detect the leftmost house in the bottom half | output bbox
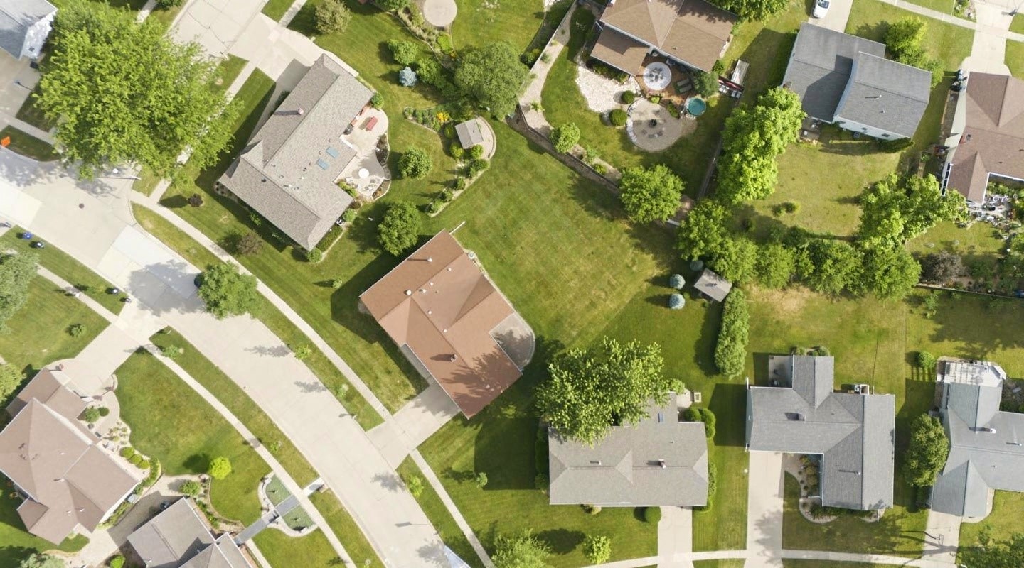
[0,367,146,546]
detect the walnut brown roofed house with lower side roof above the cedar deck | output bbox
[590,0,738,77]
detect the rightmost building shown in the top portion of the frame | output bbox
[935,71,1024,205]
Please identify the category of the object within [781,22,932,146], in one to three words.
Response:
house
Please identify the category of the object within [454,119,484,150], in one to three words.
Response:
shed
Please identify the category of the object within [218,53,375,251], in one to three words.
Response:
house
